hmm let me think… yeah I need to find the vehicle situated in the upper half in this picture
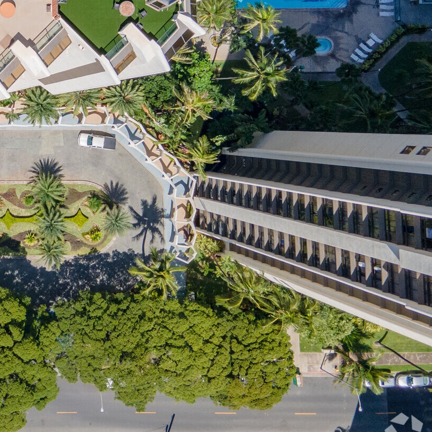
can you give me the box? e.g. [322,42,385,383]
[77,133,117,150]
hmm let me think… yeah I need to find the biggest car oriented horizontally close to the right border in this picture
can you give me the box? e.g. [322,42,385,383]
[396,374,430,390]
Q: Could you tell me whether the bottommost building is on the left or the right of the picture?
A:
right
